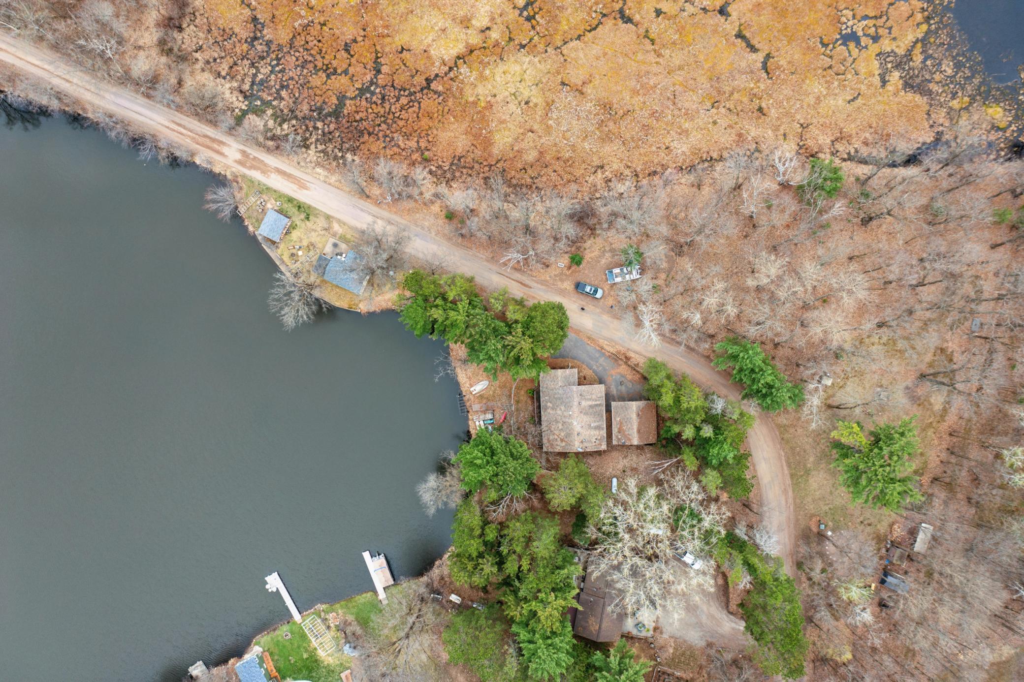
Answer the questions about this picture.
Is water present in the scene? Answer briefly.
Yes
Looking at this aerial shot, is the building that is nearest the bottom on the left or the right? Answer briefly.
left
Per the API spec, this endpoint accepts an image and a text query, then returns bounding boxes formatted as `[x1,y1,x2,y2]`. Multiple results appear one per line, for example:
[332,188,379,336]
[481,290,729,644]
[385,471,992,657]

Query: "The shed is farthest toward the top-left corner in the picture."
[258,208,293,242]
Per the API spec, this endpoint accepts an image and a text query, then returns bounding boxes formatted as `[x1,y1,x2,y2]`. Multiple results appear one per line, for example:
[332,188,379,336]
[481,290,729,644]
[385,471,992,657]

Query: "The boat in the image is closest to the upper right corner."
[599,264,644,283]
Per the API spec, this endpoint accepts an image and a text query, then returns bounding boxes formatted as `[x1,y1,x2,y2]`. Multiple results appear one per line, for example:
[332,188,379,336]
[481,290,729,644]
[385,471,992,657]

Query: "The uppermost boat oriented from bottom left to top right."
[469,381,488,396]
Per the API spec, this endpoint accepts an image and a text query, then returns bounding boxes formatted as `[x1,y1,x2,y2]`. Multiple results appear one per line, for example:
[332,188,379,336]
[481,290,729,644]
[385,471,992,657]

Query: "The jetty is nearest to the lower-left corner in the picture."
[266,572,303,627]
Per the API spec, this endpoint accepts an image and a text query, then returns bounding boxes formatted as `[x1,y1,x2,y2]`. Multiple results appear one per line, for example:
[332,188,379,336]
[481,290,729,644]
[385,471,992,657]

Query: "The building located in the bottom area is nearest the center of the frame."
[533,368,606,452]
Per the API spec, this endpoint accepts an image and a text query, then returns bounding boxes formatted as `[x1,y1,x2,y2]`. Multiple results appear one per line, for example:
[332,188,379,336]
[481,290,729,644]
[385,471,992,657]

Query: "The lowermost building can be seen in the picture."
[235,649,283,682]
